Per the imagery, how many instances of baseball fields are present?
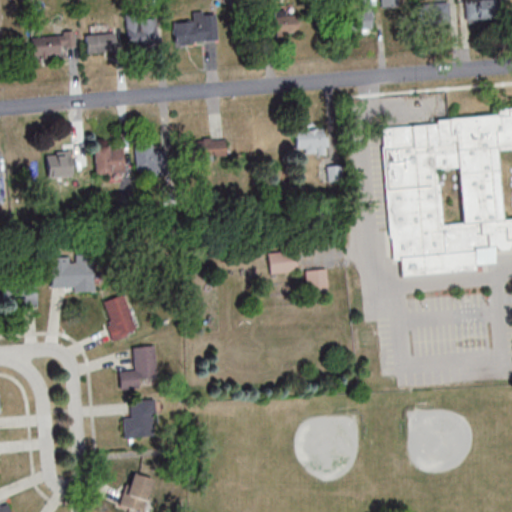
two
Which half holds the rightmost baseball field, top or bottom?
bottom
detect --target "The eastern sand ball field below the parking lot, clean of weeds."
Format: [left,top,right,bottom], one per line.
[407,408,472,474]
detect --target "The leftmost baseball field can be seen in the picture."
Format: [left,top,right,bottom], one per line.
[294,415,359,482]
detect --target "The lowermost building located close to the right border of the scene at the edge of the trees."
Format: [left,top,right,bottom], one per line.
[384,109,512,278]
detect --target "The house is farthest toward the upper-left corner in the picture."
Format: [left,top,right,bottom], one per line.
[32,32,75,56]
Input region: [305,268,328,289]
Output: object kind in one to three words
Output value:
building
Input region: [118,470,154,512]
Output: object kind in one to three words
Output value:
house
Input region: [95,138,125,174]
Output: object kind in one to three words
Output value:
house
